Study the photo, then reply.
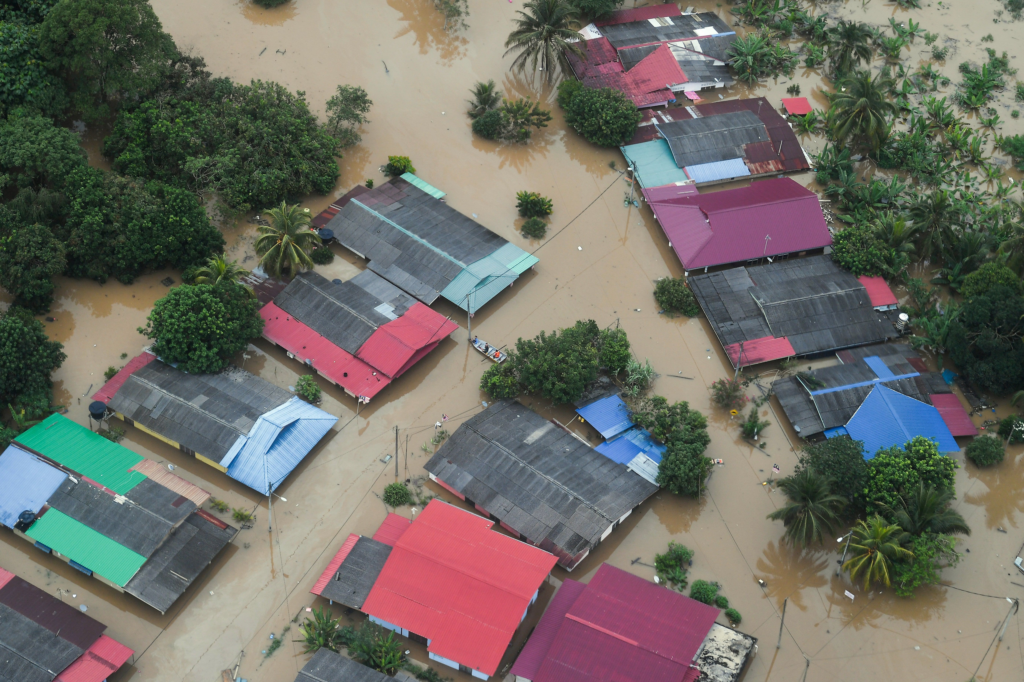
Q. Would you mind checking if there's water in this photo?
Yes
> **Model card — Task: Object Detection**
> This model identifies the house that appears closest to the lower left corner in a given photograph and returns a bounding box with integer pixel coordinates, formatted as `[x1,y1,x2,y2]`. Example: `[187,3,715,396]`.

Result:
[0,567,135,682]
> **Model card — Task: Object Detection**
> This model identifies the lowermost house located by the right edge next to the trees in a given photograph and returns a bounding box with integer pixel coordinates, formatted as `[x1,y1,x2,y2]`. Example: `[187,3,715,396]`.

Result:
[771,343,978,467]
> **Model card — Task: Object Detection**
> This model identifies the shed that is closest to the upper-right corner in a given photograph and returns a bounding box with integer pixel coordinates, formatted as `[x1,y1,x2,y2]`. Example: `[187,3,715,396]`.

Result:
[781,98,810,122]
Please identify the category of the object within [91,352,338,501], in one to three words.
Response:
house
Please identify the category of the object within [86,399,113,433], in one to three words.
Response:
water tank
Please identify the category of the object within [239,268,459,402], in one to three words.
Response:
house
